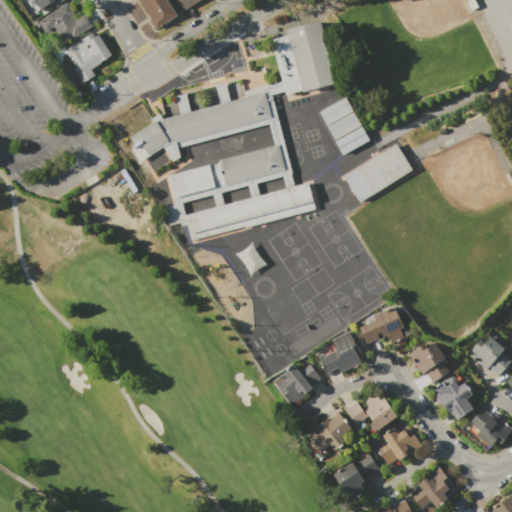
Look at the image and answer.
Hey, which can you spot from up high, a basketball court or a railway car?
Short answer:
basketball court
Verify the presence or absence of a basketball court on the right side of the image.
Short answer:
Yes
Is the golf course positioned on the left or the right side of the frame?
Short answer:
left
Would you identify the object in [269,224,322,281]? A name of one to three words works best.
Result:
basketball court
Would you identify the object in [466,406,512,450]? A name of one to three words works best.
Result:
house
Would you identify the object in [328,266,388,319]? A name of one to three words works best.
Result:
basketball court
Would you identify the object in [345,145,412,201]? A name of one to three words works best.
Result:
building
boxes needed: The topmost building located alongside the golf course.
[128,83,316,243]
